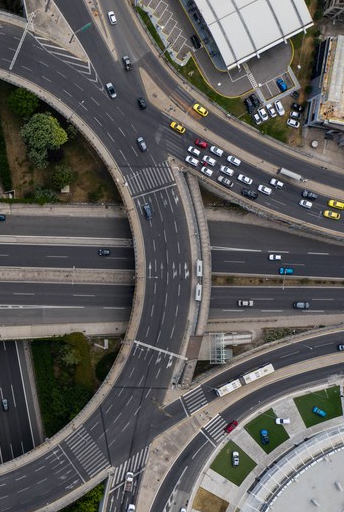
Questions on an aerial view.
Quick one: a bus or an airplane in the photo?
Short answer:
bus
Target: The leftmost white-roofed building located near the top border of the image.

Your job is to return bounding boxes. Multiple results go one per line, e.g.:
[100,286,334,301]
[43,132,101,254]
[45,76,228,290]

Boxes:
[184,0,316,73]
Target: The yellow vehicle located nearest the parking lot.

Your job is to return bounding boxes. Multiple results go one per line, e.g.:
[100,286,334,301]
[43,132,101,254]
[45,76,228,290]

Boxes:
[192,104,209,117]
